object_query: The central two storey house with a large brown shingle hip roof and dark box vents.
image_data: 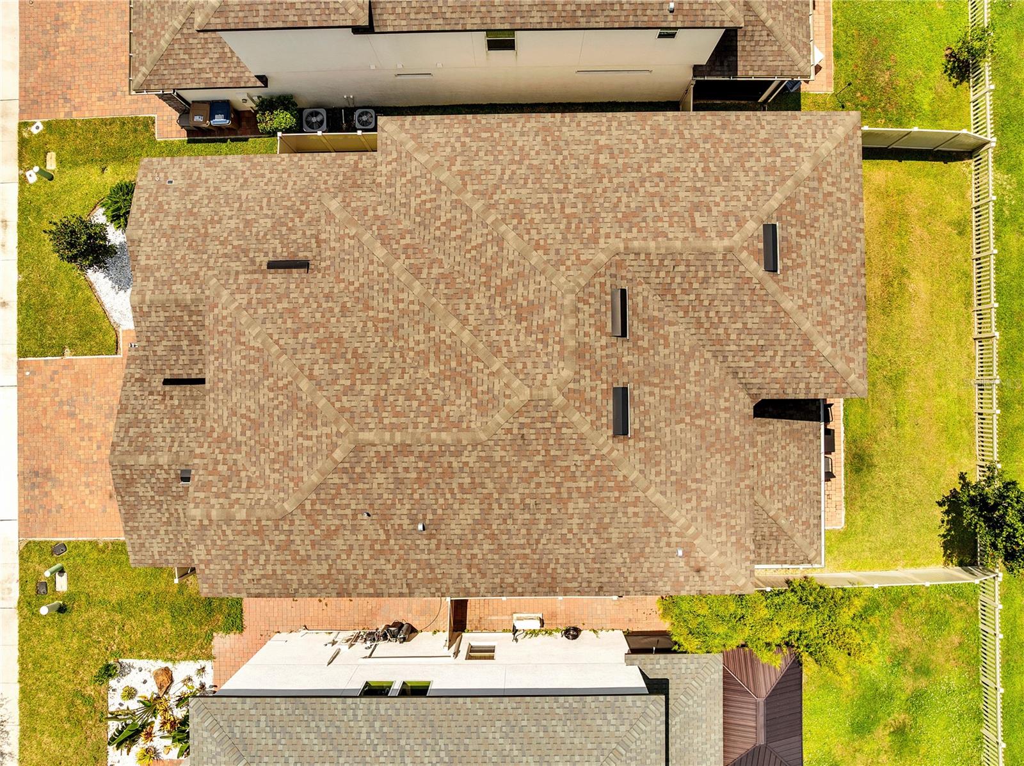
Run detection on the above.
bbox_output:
[108,111,865,597]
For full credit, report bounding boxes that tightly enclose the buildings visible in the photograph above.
[127,0,814,108]
[190,631,726,766]
[108,111,865,597]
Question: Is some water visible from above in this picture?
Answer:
No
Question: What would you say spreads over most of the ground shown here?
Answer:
buildings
